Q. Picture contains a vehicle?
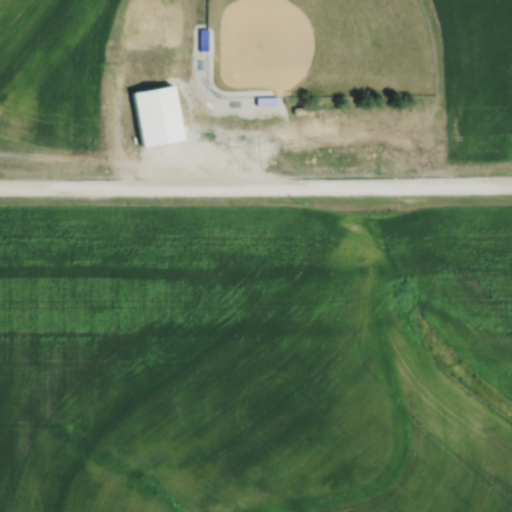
No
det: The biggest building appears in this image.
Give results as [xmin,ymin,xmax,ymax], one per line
[135,85,187,147]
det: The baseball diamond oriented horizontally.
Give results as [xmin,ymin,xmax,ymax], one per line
[209,0,436,95]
